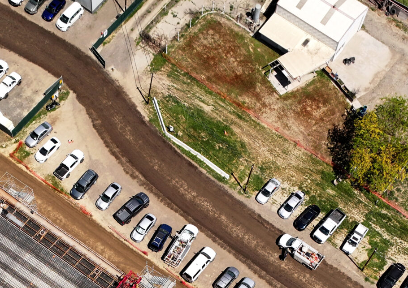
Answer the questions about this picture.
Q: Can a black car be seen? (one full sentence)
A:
Yes, a black car is visible in the scene.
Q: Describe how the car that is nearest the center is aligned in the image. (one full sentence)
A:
What the image shows is the car that is nearest the center lying at an angle.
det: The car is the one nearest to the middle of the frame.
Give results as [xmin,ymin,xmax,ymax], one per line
[256,176,281,206]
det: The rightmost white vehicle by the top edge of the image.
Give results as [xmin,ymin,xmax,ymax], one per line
[57,0,84,34]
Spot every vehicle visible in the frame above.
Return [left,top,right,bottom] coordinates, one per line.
[0,61,9,78]
[295,202,319,233]
[96,183,121,212]
[131,213,157,243]
[164,224,196,269]
[256,176,281,206]
[71,168,99,202]
[0,72,22,102]
[25,0,48,16]
[57,0,84,34]
[180,247,214,285]
[46,100,59,110]
[237,277,254,288]
[43,0,67,22]
[312,205,346,245]
[148,223,171,253]
[278,189,306,220]
[378,261,406,288]
[26,121,53,149]
[213,266,239,288]
[36,137,62,165]
[277,236,327,271]
[341,222,371,257]
[117,195,149,226]
[53,150,85,183]
[342,57,355,64]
